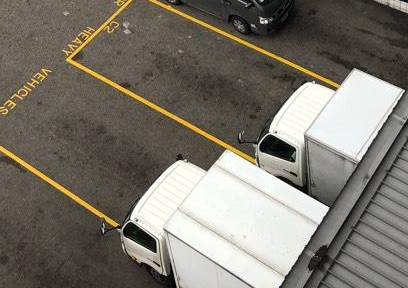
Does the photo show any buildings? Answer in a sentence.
No, there is no building in the image.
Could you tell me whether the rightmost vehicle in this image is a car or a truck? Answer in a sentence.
The rightmost vehicle can be classified as a truck.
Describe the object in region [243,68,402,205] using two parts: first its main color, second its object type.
white truck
